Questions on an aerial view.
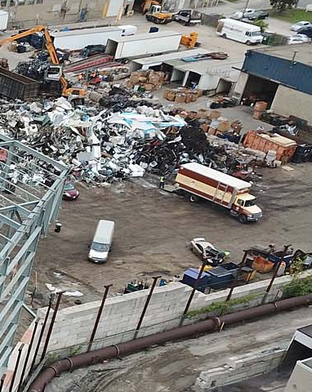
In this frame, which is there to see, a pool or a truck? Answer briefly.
truck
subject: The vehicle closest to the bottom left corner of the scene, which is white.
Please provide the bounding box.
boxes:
[88,221,114,259]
